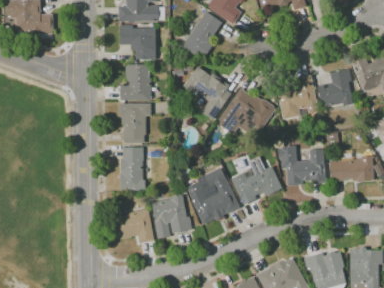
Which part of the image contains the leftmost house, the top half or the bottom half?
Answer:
top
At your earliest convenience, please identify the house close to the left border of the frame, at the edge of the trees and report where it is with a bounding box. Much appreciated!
[4,0,52,34]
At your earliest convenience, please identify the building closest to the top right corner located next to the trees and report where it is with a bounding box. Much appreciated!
[353,56,384,93]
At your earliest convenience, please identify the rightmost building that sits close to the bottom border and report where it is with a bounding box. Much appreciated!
[351,250,383,288]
